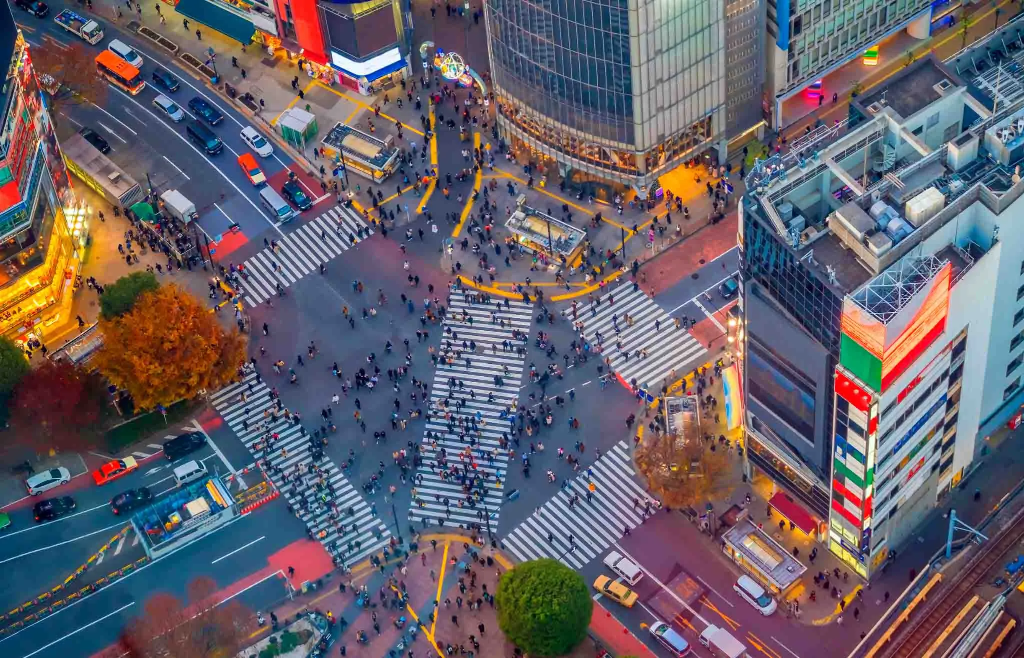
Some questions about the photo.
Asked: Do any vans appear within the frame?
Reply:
Yes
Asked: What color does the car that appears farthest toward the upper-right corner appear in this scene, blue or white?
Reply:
blue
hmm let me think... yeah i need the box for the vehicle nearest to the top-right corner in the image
[710,273,742,304]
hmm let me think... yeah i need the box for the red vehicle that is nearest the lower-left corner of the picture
[92,456,138,486]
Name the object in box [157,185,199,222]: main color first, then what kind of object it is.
white truck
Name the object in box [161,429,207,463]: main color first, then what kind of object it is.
black van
